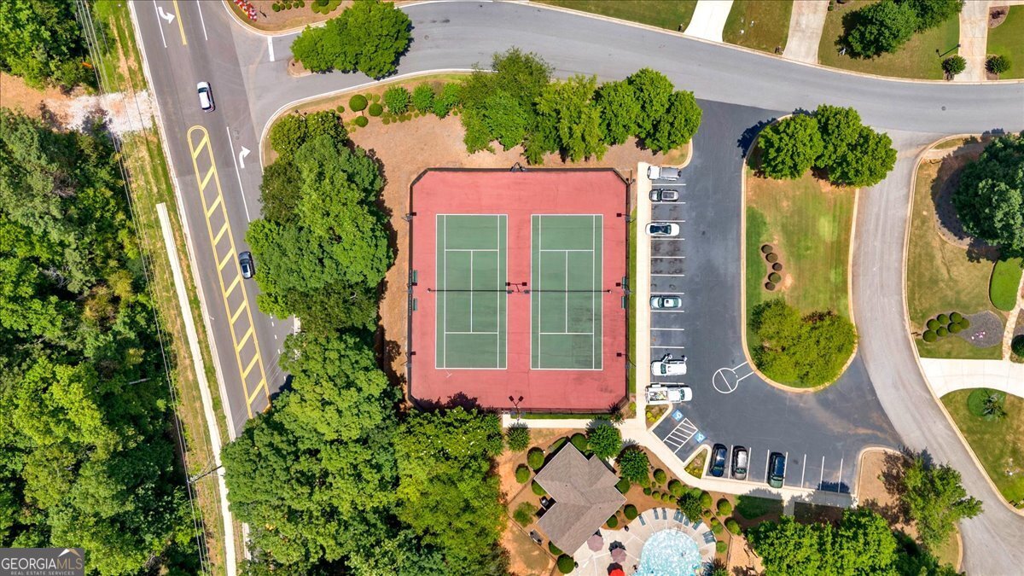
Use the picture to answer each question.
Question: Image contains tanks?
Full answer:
No, there isn't any tank down there.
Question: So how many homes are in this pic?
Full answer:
The picture shows just 1 home.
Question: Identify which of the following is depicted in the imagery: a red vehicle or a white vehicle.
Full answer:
The image shows a white vehicle.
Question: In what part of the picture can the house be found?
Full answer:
Look in the bottom portion of the view to spot the house.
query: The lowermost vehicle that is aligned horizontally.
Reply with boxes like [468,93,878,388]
[645,385,693,402]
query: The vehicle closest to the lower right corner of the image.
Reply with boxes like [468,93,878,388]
[768,453,786,486]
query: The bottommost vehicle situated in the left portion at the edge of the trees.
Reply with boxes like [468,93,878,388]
[238,250,257,280]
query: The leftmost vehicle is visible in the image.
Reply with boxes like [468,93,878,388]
[197,82,216,112]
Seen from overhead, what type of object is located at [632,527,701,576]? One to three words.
swimming pool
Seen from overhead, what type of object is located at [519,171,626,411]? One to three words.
tennis court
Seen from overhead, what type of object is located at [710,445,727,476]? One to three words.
car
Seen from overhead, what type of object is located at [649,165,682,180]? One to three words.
car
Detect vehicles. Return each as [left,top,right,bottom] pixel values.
[731,447,748,478]
[649,188,679,203]
[649,165,682,180]
[645,385,693,402]
[652,356,687,376]
[650,295,682,309]
[710,445,727,476]
[197,82,216,112]
[646,222,679,237]
[768,453,786,486]
[238,250,257,280]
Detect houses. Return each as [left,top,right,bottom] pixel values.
[534,442,627,556]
